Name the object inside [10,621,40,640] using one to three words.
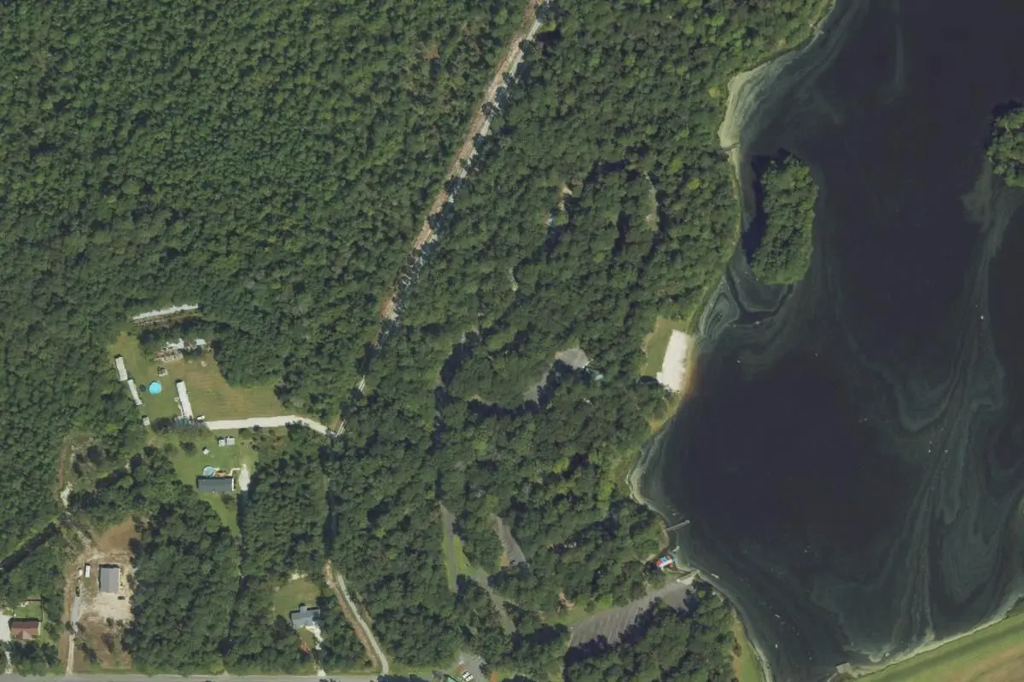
house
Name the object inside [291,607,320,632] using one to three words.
house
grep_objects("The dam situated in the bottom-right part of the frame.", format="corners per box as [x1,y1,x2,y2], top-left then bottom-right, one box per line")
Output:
[834,597,1024,682]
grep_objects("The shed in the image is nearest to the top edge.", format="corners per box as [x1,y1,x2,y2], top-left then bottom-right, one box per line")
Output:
[132,303,198,321]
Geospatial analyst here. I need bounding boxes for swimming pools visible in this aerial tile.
[149,382,162,394]
[203,466,215,478]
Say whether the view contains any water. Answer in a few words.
Yes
